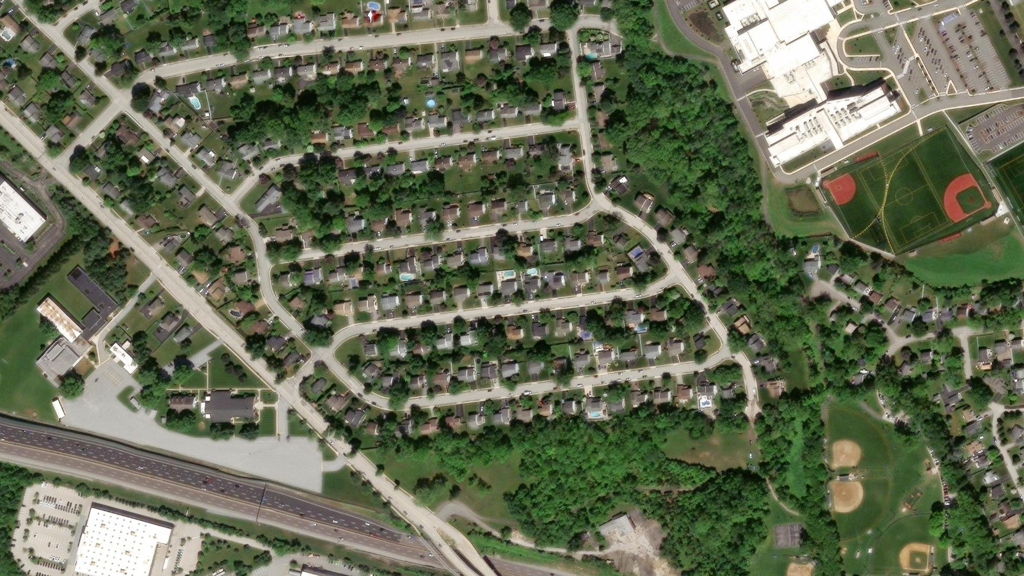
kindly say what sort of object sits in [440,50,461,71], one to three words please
house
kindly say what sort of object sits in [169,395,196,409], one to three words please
house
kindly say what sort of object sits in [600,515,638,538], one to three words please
shed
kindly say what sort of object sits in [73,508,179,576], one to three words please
building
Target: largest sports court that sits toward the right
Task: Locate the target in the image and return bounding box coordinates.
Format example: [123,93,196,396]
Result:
[775,525,803,548]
